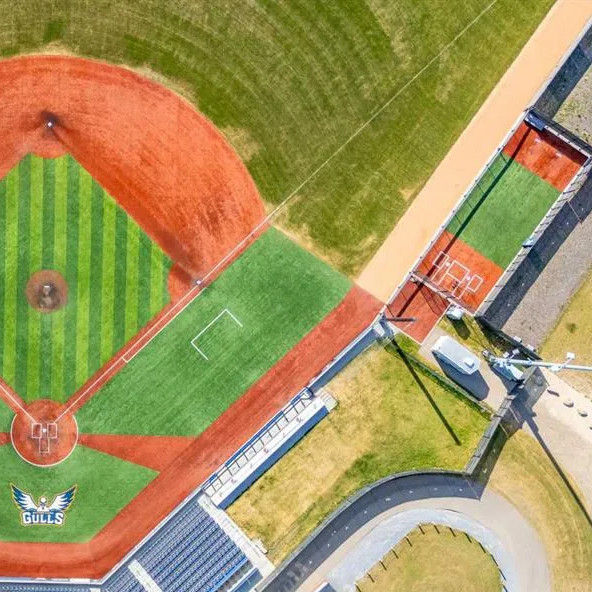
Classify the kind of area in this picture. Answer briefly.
sports ground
